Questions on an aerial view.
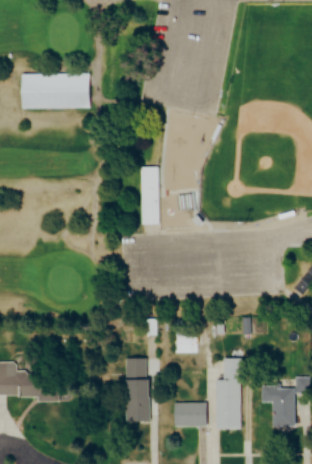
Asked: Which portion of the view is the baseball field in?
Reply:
top right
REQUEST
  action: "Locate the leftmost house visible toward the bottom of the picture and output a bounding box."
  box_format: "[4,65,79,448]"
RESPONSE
[0,362,62,402]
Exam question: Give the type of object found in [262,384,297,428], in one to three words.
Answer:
house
